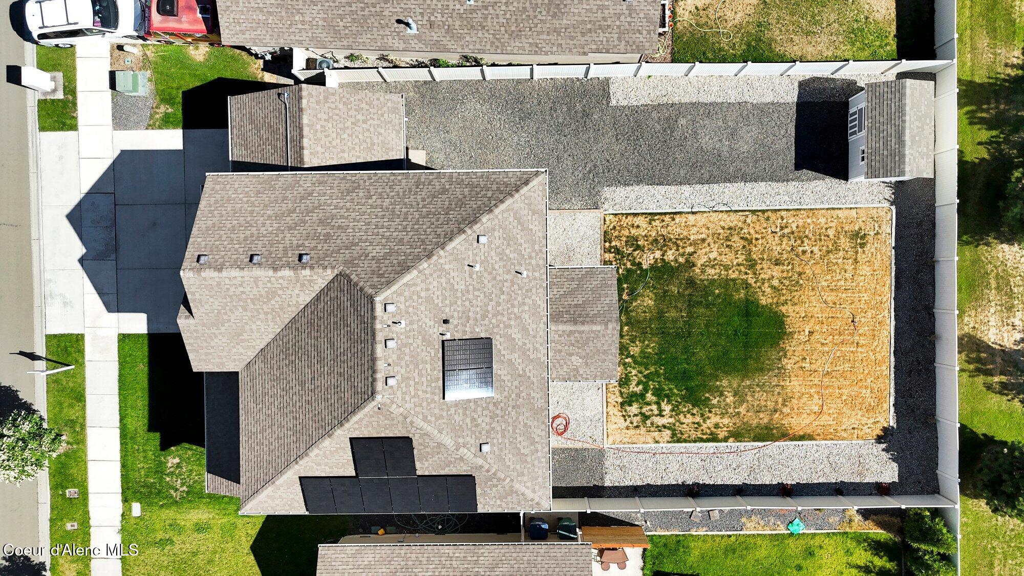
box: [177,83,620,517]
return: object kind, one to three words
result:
house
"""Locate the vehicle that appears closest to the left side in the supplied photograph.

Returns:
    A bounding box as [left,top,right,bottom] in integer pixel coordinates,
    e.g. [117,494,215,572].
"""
[25,0,135,48]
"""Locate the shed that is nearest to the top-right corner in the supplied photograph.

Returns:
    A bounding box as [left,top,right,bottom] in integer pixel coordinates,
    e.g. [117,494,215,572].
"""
[848,79,935,182]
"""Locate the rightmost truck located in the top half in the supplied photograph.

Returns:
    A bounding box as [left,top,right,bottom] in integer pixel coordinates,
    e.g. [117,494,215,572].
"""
[132,0,221,46]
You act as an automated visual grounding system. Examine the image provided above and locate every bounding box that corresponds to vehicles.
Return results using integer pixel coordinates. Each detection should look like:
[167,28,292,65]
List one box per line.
[25,0,135,48]
[132,0,221,46]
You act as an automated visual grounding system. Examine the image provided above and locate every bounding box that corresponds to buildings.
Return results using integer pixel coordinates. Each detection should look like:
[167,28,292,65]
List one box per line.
[848,79,935,182]
[177,83,620,517]
[214,0,660,60]
[315,533,593,576]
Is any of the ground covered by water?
No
